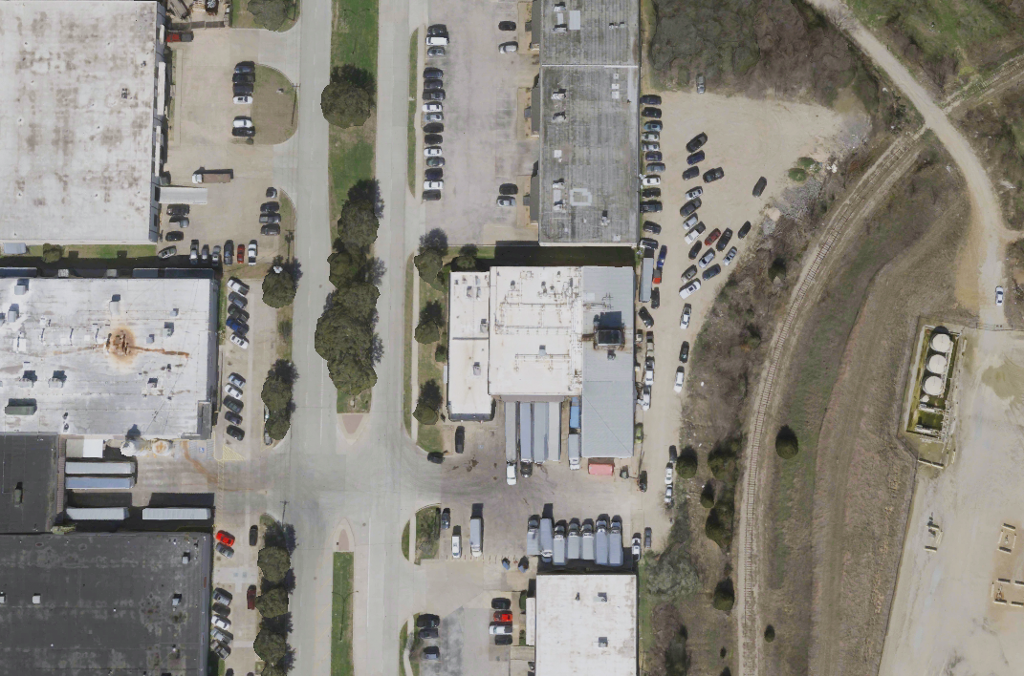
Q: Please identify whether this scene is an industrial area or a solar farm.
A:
industrial area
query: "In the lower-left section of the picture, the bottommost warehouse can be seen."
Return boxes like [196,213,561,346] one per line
[0,533,211,676]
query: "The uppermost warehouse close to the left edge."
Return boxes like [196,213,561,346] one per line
[0,0,212,245]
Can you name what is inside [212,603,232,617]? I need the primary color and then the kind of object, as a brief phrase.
black car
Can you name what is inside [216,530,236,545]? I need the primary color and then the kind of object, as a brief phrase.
red car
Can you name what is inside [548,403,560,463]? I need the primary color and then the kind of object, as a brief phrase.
white vehicle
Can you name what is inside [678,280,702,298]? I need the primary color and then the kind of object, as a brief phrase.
white vehicle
